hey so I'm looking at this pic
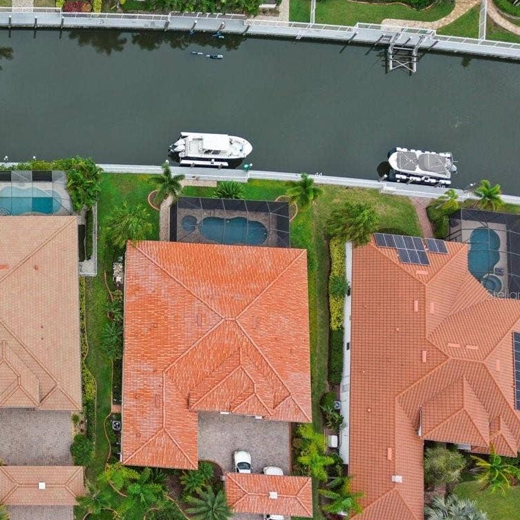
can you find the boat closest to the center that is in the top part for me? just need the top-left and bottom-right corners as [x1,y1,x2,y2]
[167,133,253,164]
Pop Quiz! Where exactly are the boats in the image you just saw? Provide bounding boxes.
[207,52,224,59]
[167,133,253,164]
[387,152,456,184]
[192,50,205,56]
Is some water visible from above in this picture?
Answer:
Yes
